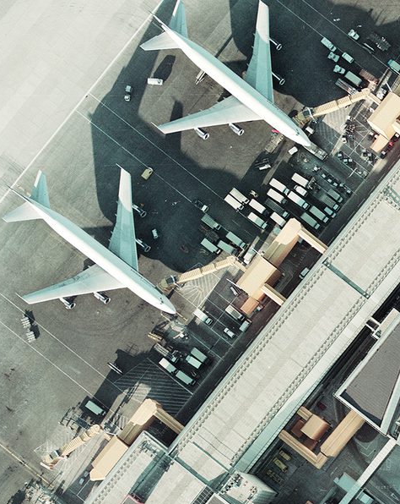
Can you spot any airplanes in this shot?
Yes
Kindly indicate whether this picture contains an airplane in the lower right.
No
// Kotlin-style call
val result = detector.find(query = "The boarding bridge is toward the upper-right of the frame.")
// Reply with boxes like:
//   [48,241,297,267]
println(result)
[303,87,385,121]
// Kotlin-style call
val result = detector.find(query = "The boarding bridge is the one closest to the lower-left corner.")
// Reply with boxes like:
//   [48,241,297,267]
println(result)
[51,422,114,460]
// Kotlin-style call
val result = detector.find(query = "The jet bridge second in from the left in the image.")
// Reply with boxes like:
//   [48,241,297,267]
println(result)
[165,256,248,289]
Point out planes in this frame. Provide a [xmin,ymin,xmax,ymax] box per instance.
[6,165,174,315]
[145,0,312,147]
